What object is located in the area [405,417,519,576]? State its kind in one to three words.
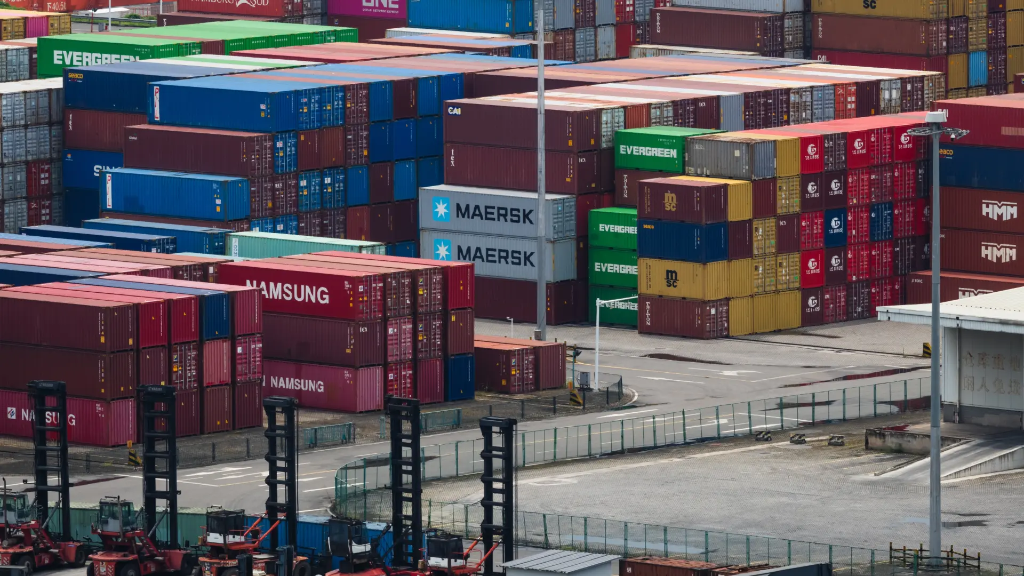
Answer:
truck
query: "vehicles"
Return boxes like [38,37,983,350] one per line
[78,384,196,576]
[405,417,519,576]
[308,396,421,576]
[0,379,94,567]
[185,396,316,576]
